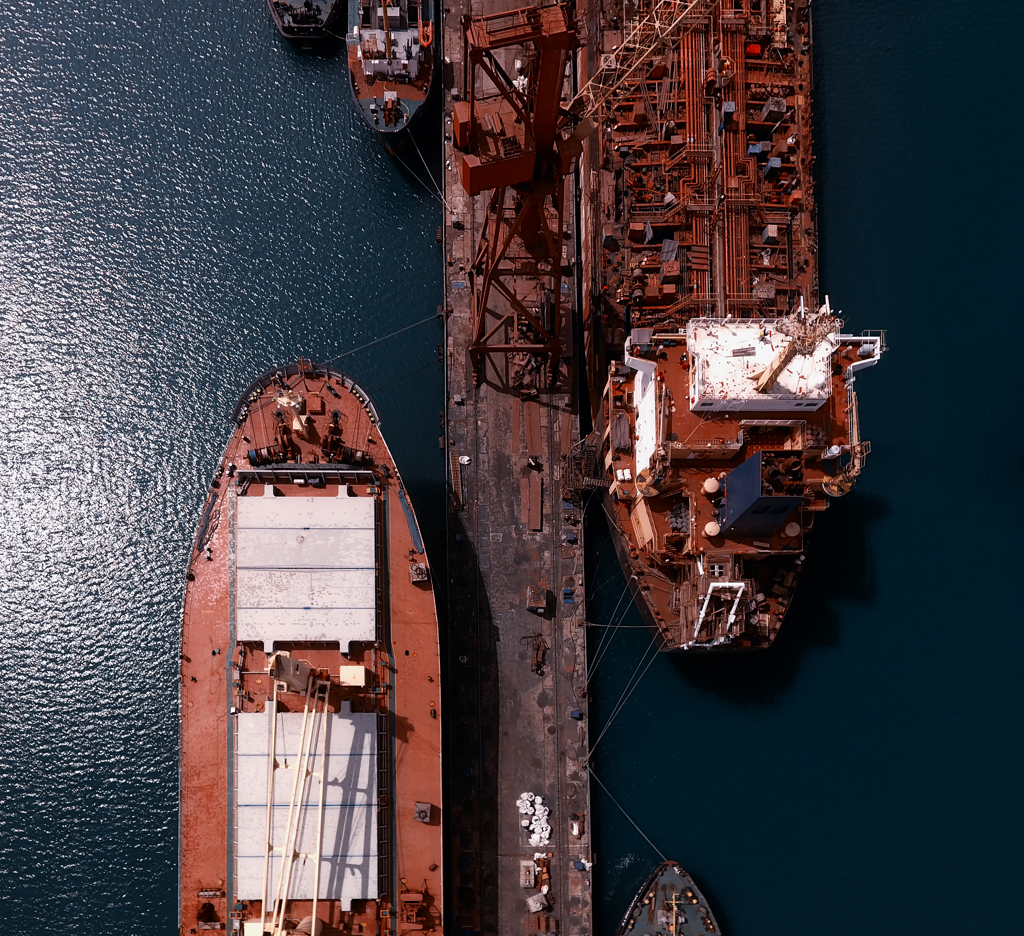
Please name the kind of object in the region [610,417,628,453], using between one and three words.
boat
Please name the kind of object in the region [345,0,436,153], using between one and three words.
ship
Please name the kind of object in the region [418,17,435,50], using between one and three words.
boat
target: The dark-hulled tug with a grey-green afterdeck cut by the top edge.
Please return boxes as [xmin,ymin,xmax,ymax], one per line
[250,0,347,52]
